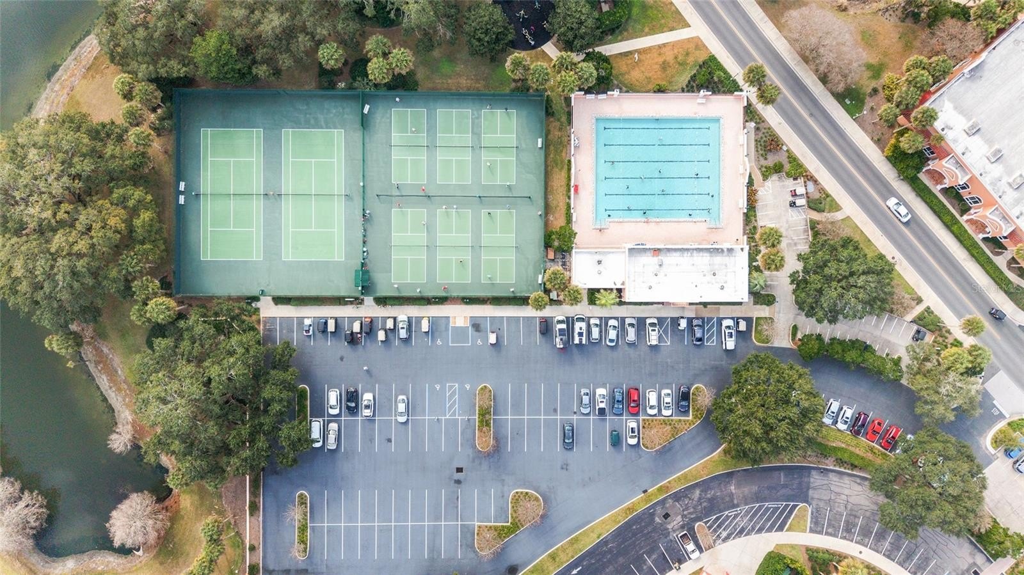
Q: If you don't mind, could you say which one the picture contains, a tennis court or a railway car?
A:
tennis court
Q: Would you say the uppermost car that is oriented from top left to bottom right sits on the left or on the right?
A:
right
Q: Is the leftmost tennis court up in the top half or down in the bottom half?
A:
top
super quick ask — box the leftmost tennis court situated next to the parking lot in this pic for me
[192,129,268,260]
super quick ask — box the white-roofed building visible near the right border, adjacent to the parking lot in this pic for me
[898,18,1024,272]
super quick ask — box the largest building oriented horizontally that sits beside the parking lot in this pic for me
[571,247,748,307]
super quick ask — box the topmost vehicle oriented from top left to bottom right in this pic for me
[885,197,910,223]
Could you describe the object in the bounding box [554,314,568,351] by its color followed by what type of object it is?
white vehicle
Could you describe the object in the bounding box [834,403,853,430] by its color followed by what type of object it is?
white car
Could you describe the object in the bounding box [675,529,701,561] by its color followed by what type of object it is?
white truck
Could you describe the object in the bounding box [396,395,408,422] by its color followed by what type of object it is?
white vehicle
